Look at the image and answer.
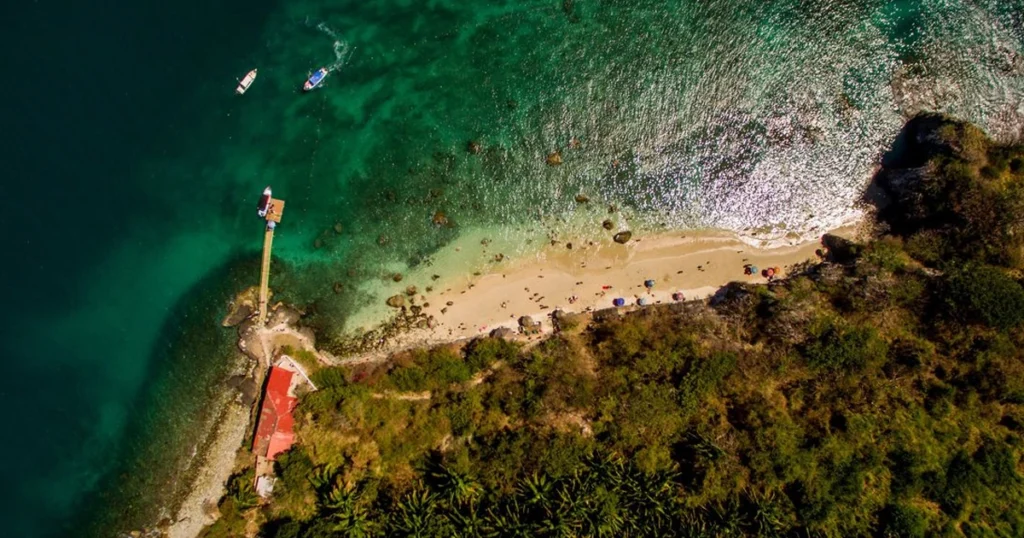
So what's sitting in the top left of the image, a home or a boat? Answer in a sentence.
What appears in the top left of the image is a boat.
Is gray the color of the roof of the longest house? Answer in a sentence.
No, the color of the roof of the longest house is red.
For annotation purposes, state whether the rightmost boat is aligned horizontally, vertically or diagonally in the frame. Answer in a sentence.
The rightmost boat is oriented diagonally.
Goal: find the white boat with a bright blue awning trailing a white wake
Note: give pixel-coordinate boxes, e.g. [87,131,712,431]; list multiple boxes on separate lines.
[303,66,328,88]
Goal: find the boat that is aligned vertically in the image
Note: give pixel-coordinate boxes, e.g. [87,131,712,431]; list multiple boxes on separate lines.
[257,186,270,218]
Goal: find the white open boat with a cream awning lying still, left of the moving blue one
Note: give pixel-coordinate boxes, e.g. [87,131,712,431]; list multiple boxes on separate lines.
[235,69,256,94]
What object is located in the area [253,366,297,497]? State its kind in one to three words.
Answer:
house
